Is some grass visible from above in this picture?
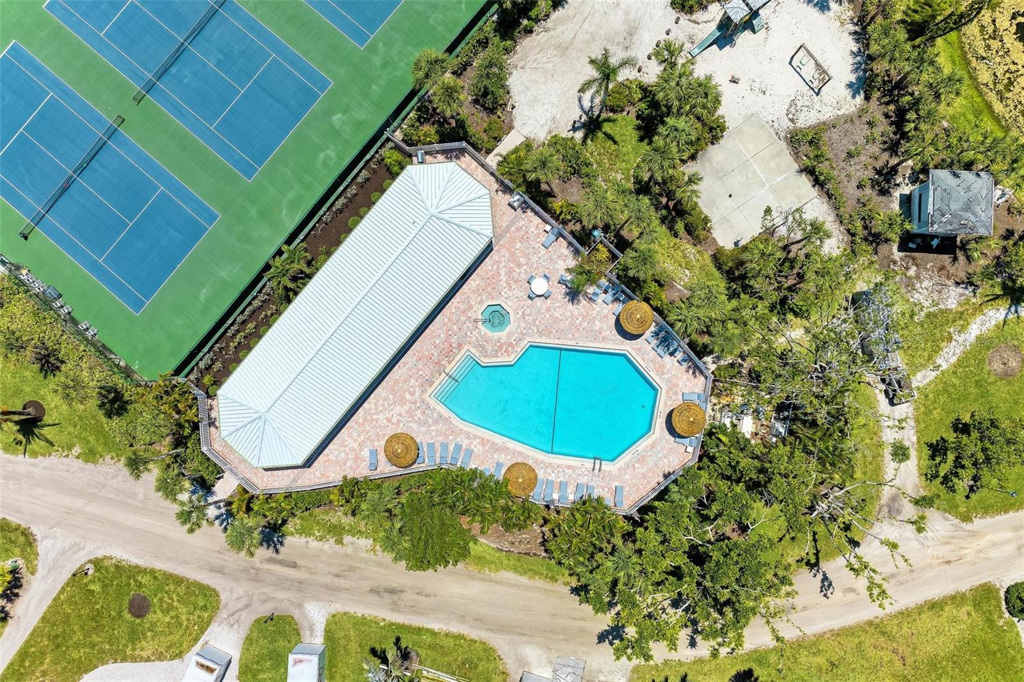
Yes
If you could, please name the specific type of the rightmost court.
basketball court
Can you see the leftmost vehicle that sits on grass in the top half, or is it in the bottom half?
bottom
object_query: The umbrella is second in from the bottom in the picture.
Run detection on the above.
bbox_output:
[383,432,419,468]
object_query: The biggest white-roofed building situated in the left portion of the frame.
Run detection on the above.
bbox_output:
[216,161,494,469]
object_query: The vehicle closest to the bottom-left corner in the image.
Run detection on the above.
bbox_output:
[182,643,231,682]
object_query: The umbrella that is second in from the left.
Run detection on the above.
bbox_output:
[502,461,538,497]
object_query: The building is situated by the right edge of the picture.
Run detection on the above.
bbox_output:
[903,168,994,258]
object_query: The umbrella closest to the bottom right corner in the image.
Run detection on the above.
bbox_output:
[671,401,707,437]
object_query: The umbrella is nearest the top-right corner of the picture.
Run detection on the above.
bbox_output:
[619,300,655,335]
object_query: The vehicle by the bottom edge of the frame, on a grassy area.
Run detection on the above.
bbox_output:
[288,643,326,682]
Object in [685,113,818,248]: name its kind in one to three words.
basketball court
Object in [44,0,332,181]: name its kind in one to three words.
tennis court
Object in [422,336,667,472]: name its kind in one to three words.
swimming pool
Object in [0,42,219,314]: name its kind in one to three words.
tennis court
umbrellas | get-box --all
[671,401,707,437]
[502,461,538,497]
[619,300,655,335]
[383,432,419,468]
